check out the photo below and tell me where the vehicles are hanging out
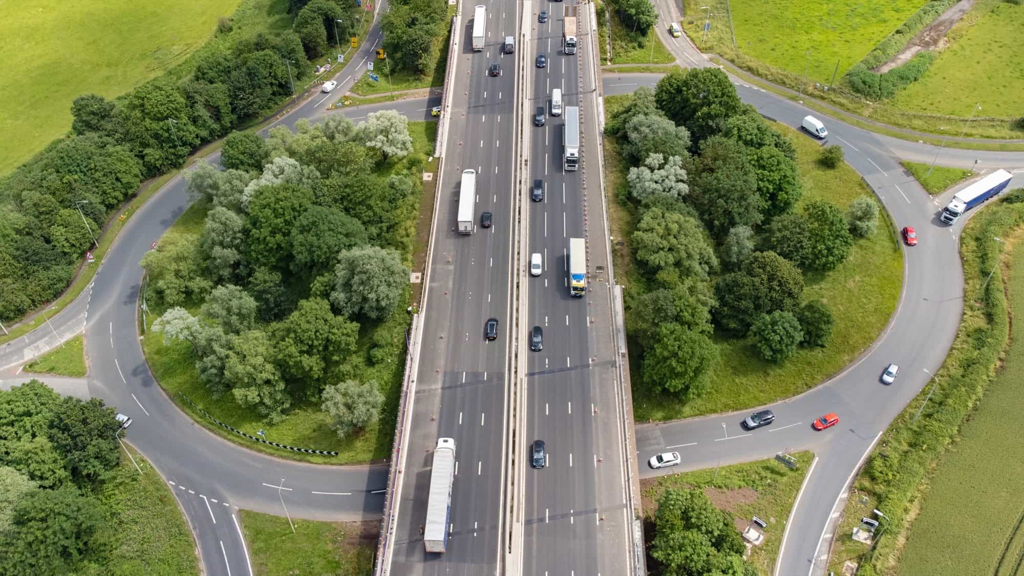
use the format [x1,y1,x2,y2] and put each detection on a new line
[564,105,581,170]
[531,180,543,199]
[536,53,546,67]
[530,438,546,470]
[485,318,499,341]
[472,6,488,50]
[568,237,587,297]
[539,10,548,22]
[529,250,543,276]
[649,451,683,469]
[530,325,544,352]
[457,171,478,236]
[534,107,545,125]
[425,437,457,555]
[813,412,840,430]
[943,172,1007,226]
[550,88,563,114]
[481,210,493,228]
[880,362,899,385]
[903,227,917,244]
[320,80,340,95]
[111,410,134,431]
[801,112,826,138]
[563,11,577,53]
[490,63,500,76]
[504,38,515,53]
[743,408,776,429]
[670,22,681,35]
